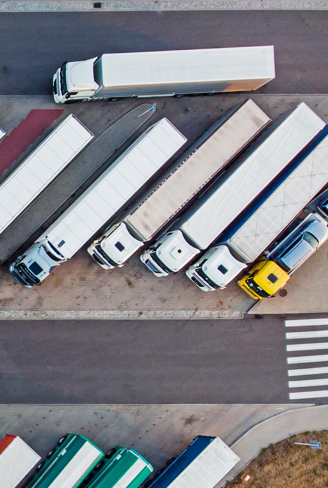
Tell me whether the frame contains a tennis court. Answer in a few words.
No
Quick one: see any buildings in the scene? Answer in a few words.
No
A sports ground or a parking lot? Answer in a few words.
parking lot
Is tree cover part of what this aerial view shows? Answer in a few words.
No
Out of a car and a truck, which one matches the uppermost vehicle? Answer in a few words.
truck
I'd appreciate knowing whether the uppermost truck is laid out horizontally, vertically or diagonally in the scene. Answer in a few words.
horizontally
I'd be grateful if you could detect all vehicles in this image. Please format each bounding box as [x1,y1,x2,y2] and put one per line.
[86,98,271,269]
[140,102,326,276]
[272,222,327,276]
[84,448,151,488]
[0,433,41,488]
[28,433,104,488]
[11,119,187,287]
[51,47,275,101]
[0,114,93,233]
[184,126,328,290]
[239,188,328,299]
[142,434,239,488]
